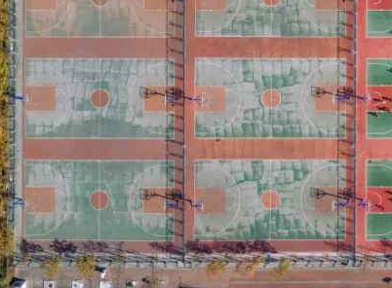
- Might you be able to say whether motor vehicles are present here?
No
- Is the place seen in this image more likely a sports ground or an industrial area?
sports ground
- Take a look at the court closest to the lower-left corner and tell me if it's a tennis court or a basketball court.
basketball court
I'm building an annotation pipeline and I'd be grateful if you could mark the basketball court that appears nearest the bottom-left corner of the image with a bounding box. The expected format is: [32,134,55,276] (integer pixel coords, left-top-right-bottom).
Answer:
[26,160,175,241]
